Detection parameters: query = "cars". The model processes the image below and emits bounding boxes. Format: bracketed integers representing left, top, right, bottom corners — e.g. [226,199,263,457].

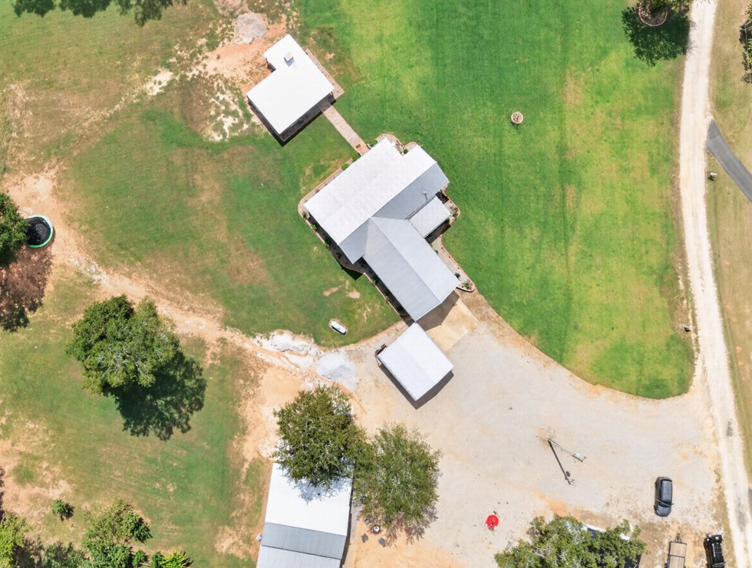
[703,534,728,568]
[654,477,678,520]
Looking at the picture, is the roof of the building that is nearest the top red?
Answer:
No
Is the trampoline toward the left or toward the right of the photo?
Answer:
left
